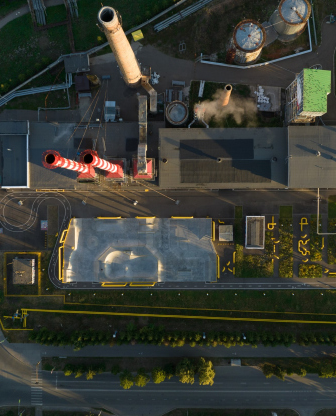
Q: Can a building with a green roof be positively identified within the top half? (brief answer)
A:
Yes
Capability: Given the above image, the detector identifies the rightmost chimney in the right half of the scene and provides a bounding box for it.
[216,84,232,110]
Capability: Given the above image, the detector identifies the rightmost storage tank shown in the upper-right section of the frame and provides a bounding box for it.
[271,0,311,39]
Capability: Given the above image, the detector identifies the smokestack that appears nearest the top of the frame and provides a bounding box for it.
[98,5,142,89]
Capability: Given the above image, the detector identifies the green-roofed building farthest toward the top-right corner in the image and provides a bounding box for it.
[282,64,332,126]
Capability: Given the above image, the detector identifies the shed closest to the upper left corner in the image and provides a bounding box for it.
[64,53,90,75]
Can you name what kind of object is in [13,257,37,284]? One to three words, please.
shed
